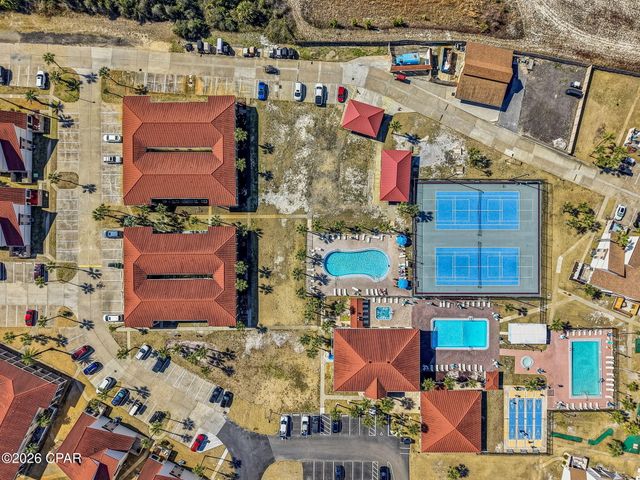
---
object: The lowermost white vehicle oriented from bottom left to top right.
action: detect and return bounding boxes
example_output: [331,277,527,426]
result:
[128,400,142,417]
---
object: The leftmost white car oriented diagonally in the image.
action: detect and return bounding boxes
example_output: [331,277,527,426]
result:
[95,376,112,391]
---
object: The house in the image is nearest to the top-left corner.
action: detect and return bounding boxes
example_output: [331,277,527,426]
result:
[0,107,48,184]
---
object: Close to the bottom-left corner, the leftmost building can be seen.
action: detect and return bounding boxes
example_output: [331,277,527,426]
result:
[0,343,74,480]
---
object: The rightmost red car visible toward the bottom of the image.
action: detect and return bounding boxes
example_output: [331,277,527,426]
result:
[191,433,204,451]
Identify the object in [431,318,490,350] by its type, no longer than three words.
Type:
swimming pool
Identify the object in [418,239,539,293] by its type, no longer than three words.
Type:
tennis court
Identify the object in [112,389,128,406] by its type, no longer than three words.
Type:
car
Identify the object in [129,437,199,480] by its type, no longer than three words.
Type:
house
